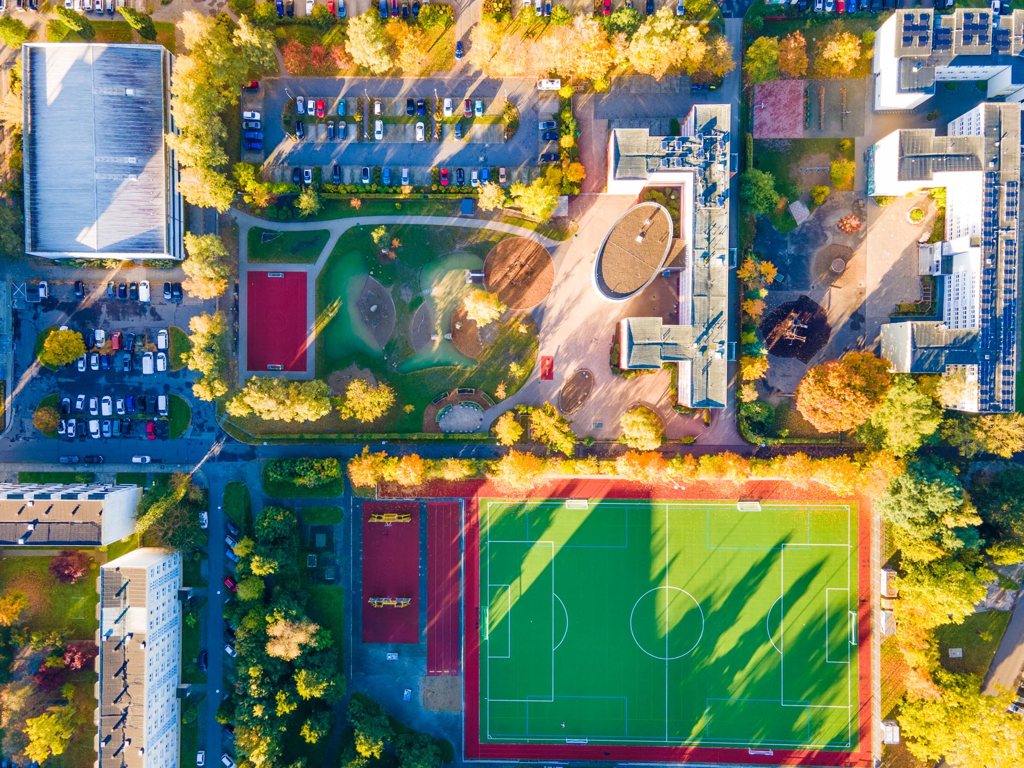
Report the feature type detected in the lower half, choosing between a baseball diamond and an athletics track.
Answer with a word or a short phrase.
athletics track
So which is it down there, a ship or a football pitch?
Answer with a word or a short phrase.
football pitch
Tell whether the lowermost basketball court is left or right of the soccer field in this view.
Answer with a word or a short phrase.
on its left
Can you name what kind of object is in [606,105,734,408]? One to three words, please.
building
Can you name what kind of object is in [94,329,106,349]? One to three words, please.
vehicle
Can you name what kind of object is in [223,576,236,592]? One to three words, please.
vehicle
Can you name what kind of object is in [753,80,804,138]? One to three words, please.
sports court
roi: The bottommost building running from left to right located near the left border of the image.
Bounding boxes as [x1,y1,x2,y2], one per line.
[0,482,142,545]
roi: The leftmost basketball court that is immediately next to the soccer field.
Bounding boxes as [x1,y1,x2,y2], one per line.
[363,502,419,643]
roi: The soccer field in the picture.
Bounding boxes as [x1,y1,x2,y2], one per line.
[479,499,859,752]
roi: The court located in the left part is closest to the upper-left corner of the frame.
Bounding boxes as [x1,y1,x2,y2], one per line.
[247,272,308,371]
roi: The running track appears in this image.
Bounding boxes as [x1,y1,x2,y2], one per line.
[377,478,873,765]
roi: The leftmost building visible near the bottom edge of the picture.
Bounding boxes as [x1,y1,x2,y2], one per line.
[97,549,191,768]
